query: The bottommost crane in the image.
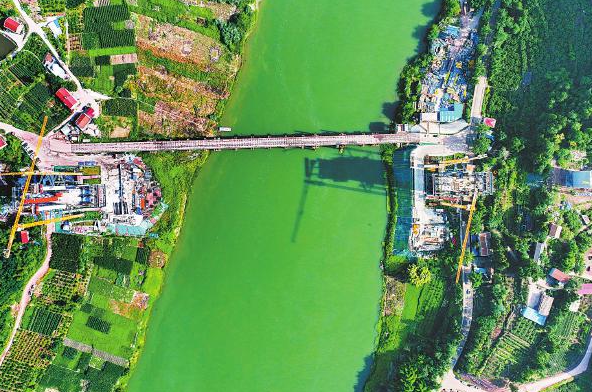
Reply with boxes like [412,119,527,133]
[428,189,480,286]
